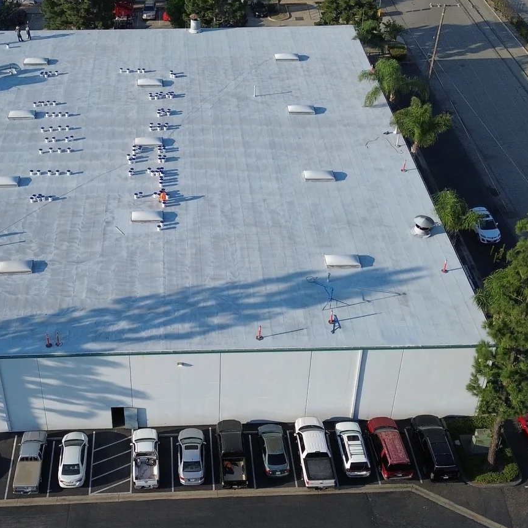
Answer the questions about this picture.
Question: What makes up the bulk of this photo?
buildings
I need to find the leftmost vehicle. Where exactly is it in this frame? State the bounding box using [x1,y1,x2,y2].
[13,429,49,494]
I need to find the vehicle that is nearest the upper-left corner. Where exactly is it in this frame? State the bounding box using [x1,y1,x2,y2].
[113,0,133,29]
